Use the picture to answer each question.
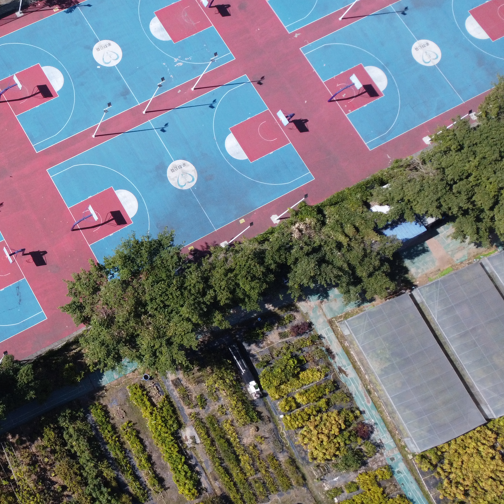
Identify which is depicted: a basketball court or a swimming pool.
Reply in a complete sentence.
Looking from above, you can make out a basketball court.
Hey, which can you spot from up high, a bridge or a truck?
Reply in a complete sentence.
I can see a truck in this picture.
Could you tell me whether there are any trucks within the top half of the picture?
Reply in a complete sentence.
No, I can find no truck within the top half of the picture.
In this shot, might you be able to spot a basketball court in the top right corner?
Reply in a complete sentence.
Yes, I can see a basketball court in the top right corner.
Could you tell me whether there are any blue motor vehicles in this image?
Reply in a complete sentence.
No, there's no blue motor vehicle here.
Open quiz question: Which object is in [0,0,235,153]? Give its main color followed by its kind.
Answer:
blue basketball court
